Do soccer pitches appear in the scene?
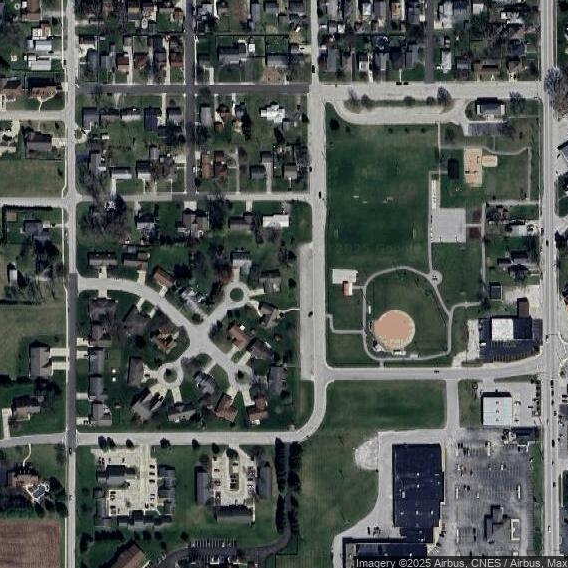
Yes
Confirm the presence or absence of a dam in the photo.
No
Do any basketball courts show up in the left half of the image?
No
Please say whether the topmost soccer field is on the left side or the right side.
right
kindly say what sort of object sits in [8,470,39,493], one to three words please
house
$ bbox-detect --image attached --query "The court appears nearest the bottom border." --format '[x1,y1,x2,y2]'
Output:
[430,209,466,243]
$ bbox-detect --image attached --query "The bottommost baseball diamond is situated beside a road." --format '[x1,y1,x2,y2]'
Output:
[365,268,448,358]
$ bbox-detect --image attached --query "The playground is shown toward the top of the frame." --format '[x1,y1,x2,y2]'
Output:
[465,146,497,184]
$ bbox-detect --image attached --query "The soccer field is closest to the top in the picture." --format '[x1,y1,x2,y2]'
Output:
[339,200,416,266]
